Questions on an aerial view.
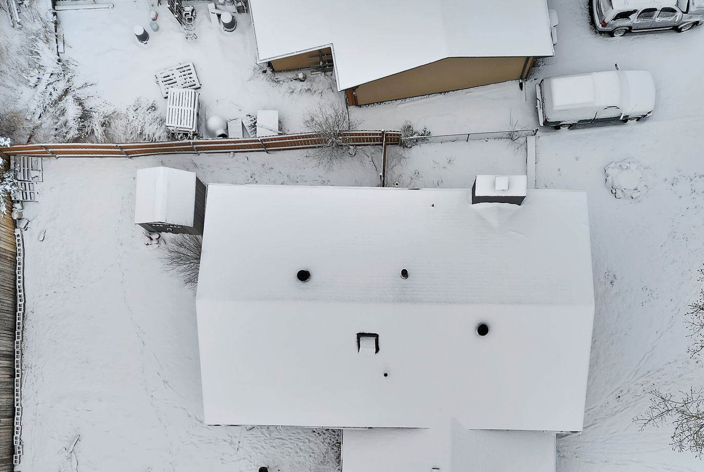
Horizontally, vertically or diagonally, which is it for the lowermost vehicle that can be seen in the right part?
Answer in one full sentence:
The lowermost vehicle that can be seen in the right part has been laid out horizontally relative to the frame.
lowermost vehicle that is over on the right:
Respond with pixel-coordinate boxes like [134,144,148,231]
[537,66,660,132]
